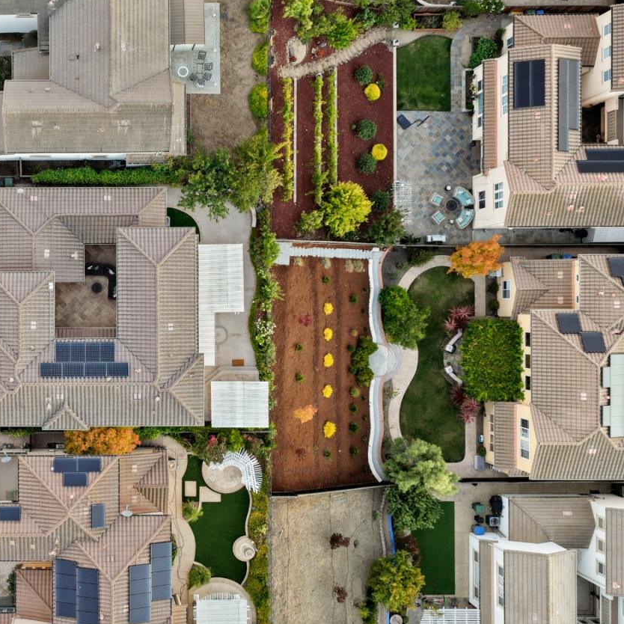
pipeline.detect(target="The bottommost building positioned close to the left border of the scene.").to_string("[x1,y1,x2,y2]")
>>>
[0,448,188,624]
